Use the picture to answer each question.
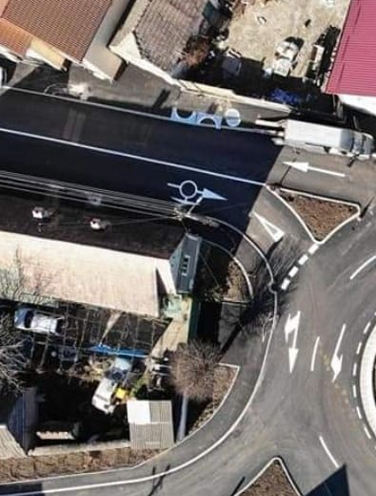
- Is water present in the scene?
No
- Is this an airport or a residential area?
residential area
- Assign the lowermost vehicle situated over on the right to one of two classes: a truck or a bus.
truck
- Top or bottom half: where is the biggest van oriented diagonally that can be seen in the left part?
bottom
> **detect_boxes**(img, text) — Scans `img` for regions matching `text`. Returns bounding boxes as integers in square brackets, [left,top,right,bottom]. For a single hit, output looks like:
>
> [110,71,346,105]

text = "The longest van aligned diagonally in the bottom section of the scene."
[87,355,141,415]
